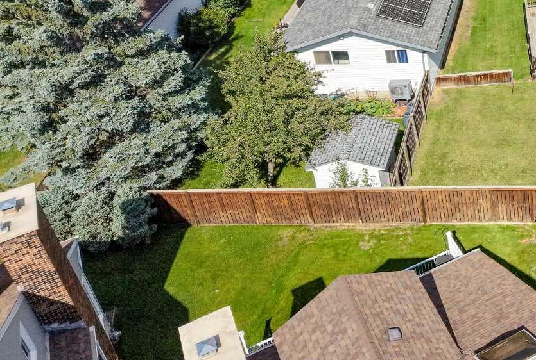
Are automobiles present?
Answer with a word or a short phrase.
No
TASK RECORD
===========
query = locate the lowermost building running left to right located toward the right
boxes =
[243,234,536,360]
